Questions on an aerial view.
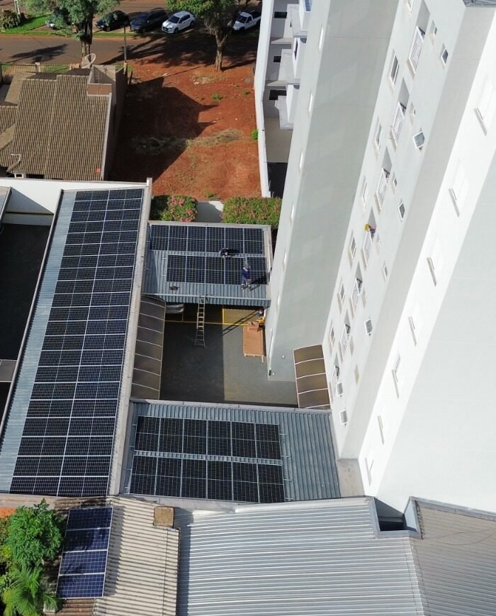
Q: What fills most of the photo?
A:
buildings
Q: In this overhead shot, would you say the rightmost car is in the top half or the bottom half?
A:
top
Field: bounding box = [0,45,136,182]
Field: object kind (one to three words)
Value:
house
